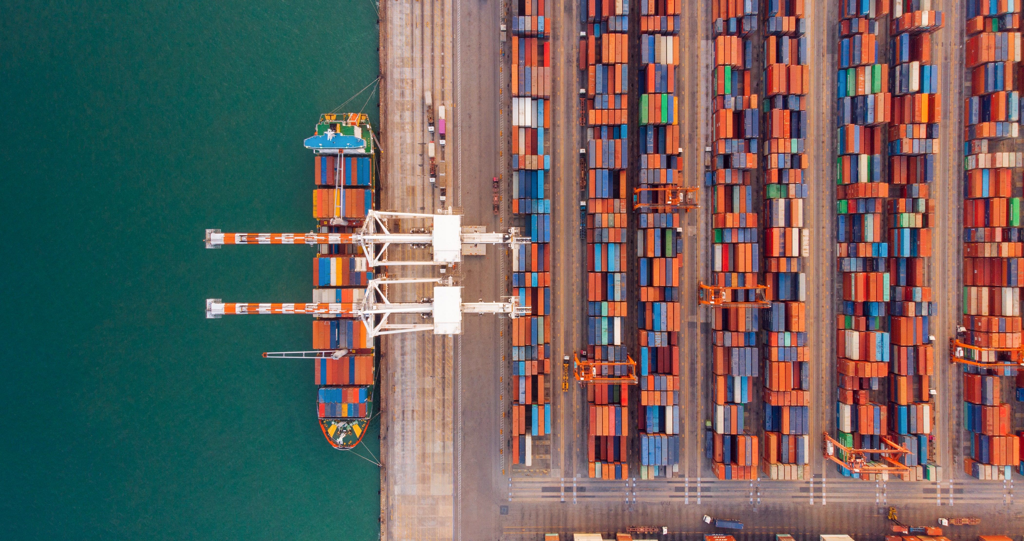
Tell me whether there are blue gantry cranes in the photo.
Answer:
No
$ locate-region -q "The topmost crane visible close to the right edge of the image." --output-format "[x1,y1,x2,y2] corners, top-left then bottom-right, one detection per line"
[950,337,1024,369]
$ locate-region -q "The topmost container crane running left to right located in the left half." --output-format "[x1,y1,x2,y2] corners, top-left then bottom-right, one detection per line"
[202,204,530,272]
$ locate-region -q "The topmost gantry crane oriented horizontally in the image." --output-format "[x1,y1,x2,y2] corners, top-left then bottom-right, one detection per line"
[634,187,703,214]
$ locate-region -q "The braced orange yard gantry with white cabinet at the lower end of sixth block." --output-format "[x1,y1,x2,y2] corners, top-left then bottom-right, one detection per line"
[822,432,906,474]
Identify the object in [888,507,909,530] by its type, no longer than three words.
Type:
work vehicle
